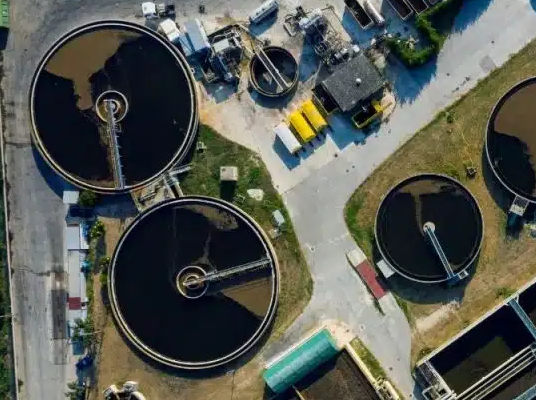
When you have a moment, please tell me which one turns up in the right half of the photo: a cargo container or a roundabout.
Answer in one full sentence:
It is a cargo container that can be seen in the right half of the photo.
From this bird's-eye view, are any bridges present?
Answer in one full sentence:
Yes, you can see a bridge in this photo.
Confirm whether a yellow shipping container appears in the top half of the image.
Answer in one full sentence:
Yes, the scene does show a yellow shipping container in the top half of the image.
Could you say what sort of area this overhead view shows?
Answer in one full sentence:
This looks like an industrial area.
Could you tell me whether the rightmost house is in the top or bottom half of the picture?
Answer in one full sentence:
The top half of the photo is where the rightmost house is.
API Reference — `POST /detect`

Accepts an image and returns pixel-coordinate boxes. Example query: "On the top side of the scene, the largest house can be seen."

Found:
[322,54,384,113]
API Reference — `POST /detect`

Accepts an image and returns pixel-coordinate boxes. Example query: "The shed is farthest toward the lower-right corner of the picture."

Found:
[261,321,339,392]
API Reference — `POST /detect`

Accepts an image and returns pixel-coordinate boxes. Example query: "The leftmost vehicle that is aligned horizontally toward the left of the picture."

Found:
[144,1,178,18]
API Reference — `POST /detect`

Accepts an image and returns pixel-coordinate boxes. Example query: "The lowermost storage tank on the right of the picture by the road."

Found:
[375,174,483,282]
